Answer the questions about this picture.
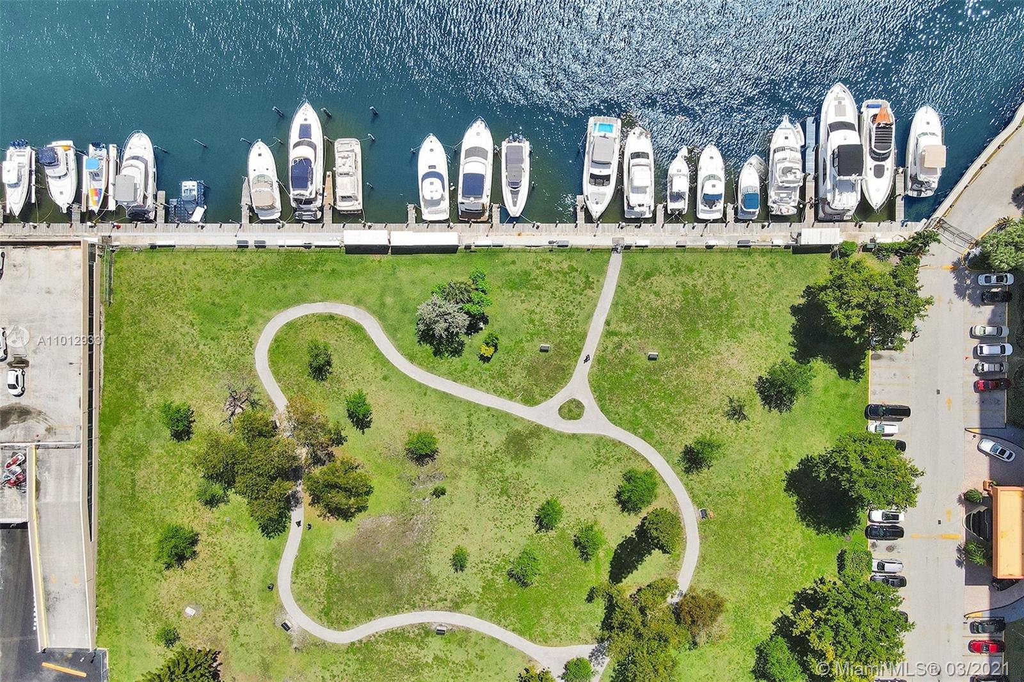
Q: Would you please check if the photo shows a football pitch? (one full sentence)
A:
No, no football pitch is visible in the scene.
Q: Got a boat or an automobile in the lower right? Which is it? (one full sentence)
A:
What appears in the lower right is an automobile.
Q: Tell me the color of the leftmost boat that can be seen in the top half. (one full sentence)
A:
From above, the leftmost boat that can be seen in the top half appears white.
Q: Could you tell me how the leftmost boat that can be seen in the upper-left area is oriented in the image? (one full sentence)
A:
In this picture, the leftmost boat that can be seen in the upper-left area lies vertically.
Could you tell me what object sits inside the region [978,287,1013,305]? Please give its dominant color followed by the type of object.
black car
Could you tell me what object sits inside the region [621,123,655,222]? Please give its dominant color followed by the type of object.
white boat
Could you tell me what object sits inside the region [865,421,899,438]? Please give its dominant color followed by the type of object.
white car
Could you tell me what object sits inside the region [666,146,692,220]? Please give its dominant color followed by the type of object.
white boat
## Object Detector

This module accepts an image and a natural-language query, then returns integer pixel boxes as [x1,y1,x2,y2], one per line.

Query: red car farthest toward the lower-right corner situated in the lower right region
[966,637,1005,656]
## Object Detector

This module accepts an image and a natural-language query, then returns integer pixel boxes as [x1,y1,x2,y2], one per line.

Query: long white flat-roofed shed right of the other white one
[391,232,459,248]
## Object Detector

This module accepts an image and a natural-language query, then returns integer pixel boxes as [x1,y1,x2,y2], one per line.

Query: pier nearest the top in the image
[800,115,819,168]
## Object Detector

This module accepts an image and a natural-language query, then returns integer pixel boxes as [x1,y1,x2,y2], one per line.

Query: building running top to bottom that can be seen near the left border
[0,238,102,651]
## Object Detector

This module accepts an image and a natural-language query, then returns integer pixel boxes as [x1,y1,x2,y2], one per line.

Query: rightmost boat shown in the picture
[902,102,951,202]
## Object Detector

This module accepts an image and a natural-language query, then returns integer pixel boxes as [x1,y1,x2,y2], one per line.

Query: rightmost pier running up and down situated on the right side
[888,167,907,223]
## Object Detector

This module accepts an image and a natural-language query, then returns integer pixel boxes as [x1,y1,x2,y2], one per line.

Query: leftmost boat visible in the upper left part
[1,139,36,220]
